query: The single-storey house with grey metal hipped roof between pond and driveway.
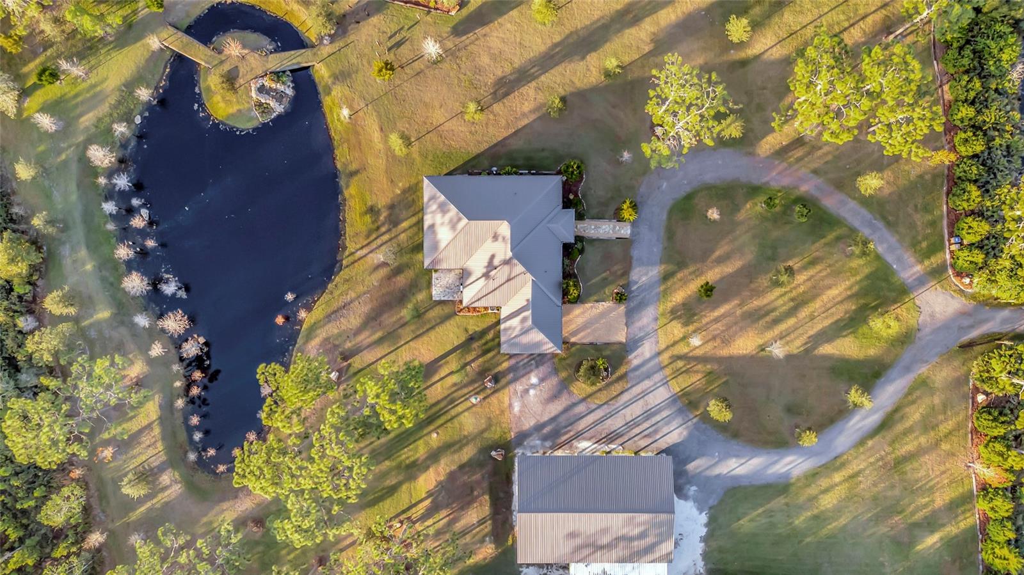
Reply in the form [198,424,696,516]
[423,174,575,353]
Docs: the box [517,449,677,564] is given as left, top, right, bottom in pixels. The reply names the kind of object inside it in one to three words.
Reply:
barn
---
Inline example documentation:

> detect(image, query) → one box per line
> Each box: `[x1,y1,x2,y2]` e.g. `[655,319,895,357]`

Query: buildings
[423,174,575,353]
[517,449,677,564]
